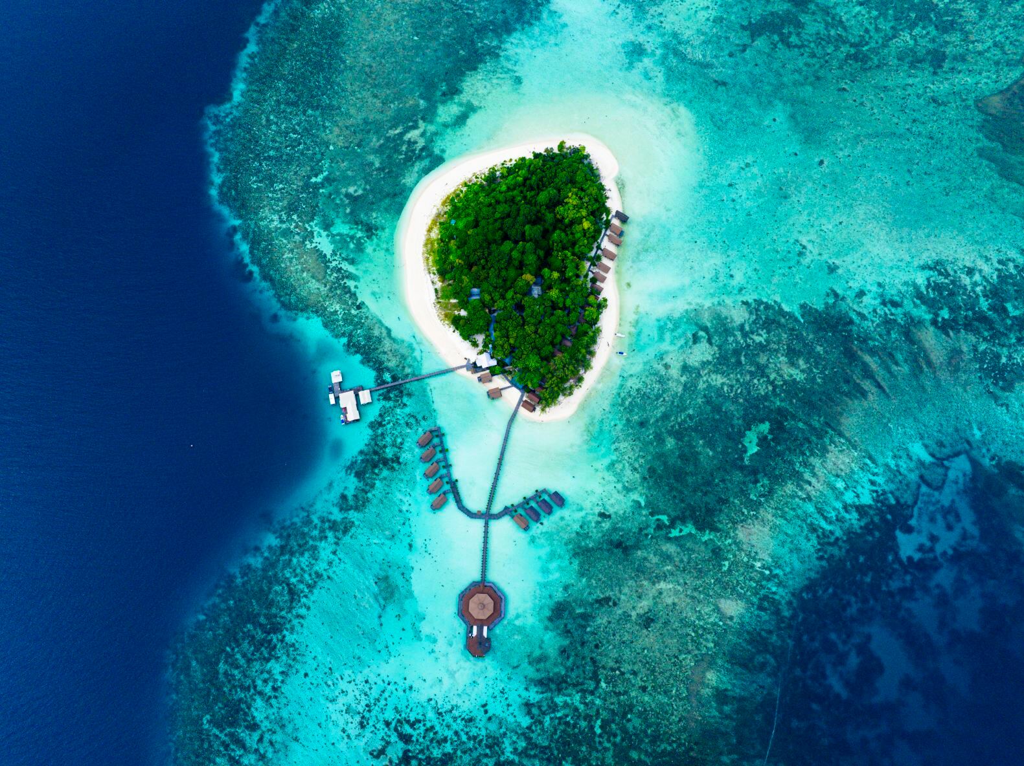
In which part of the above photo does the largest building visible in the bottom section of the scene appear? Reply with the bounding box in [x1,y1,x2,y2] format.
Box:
[458,582,505,657]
